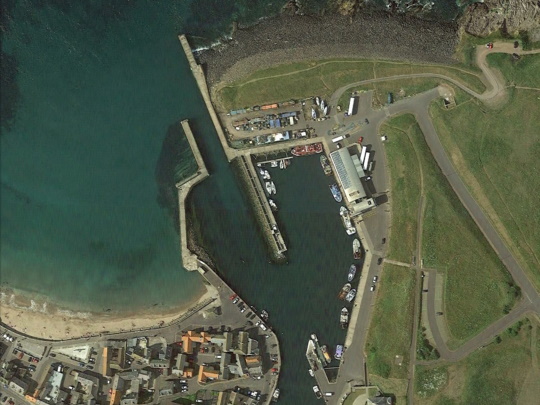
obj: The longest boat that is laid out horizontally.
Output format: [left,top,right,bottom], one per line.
[291,144,323,157]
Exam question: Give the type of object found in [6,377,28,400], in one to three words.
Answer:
house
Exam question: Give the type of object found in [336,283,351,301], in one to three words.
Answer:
boat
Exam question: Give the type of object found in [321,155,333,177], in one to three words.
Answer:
boat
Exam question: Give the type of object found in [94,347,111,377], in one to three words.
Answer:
house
